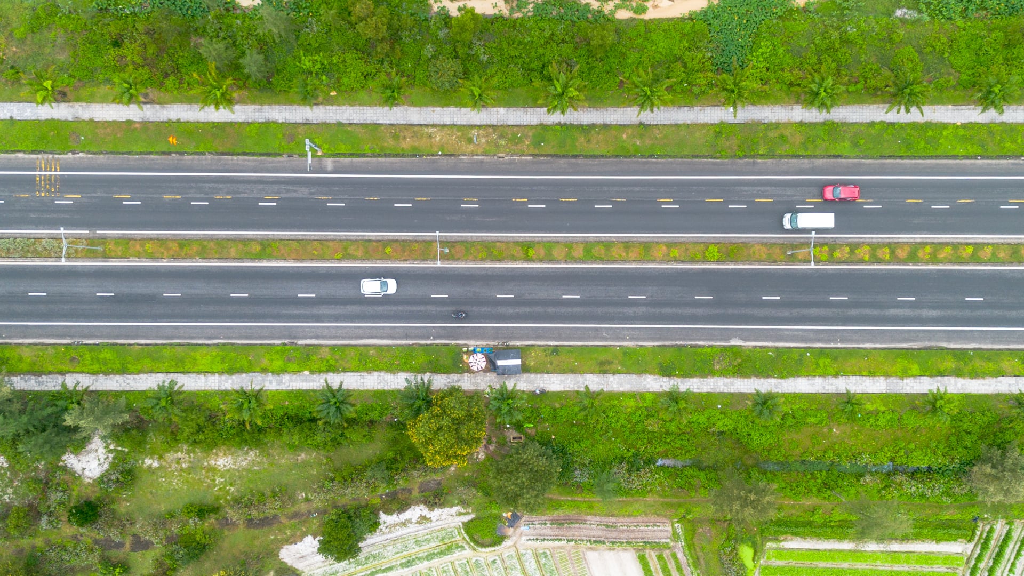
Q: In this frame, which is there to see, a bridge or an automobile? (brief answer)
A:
automobile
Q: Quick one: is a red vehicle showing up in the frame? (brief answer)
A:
Yes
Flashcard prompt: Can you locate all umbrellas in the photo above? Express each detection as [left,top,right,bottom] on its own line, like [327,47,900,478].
[469,353,486,371]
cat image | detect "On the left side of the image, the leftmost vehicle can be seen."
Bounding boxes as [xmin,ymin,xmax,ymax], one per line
[361,278,397,295]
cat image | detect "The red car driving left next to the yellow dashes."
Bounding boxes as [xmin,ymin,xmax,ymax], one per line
[822,184,859,201]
